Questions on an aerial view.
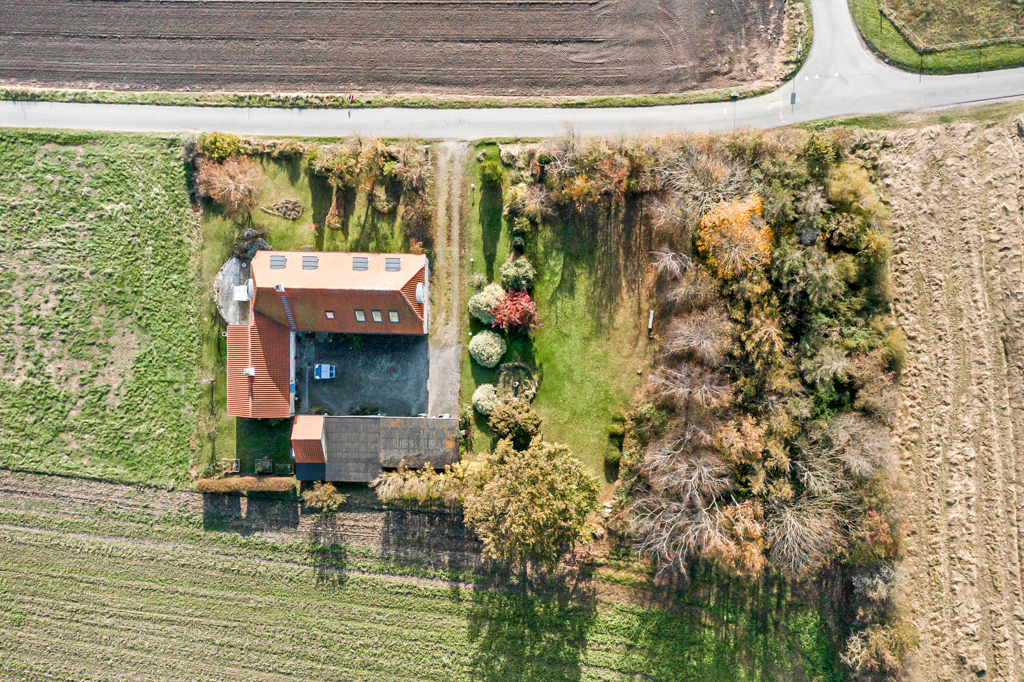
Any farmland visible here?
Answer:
Yes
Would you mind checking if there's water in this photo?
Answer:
No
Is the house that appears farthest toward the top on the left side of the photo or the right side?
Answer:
left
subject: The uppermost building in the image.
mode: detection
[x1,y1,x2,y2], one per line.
[227,249,428,420]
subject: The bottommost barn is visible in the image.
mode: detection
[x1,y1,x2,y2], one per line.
[290,414,459,481]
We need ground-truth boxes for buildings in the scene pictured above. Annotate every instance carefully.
[227,249,428,420]
[290,414,459,481]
